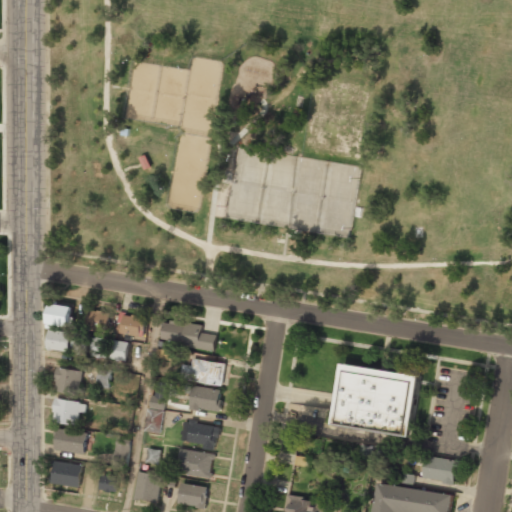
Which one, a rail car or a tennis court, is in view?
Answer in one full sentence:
I can see a tennis court in this picture.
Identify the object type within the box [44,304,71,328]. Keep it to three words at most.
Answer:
house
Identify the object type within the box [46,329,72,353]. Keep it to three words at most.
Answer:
house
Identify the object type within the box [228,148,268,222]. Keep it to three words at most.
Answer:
tennis court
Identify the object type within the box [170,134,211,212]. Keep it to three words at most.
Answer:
sports court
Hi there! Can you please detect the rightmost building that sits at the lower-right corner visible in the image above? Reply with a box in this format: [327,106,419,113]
[422,456,458,485]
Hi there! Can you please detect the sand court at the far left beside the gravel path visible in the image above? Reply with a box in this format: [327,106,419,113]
[129,63,160,122]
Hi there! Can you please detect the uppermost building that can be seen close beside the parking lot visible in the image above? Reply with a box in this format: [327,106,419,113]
[328,364,422,438]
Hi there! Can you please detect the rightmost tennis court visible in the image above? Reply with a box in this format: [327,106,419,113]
[320,162,360,236]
